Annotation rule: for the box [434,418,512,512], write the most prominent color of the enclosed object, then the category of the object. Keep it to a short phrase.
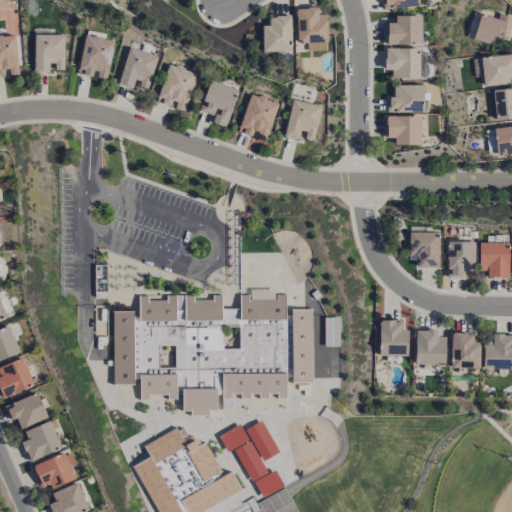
green baseball field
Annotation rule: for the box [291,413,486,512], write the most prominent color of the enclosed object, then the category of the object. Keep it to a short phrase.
green sports field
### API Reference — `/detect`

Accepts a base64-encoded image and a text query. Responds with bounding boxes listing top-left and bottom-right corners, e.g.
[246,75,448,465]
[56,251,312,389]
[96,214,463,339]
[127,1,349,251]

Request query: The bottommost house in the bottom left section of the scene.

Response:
[50,482,92,512]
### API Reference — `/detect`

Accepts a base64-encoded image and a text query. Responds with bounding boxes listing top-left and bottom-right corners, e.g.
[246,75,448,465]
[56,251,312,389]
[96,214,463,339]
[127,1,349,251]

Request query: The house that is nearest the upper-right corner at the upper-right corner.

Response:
[470,10,512,52]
